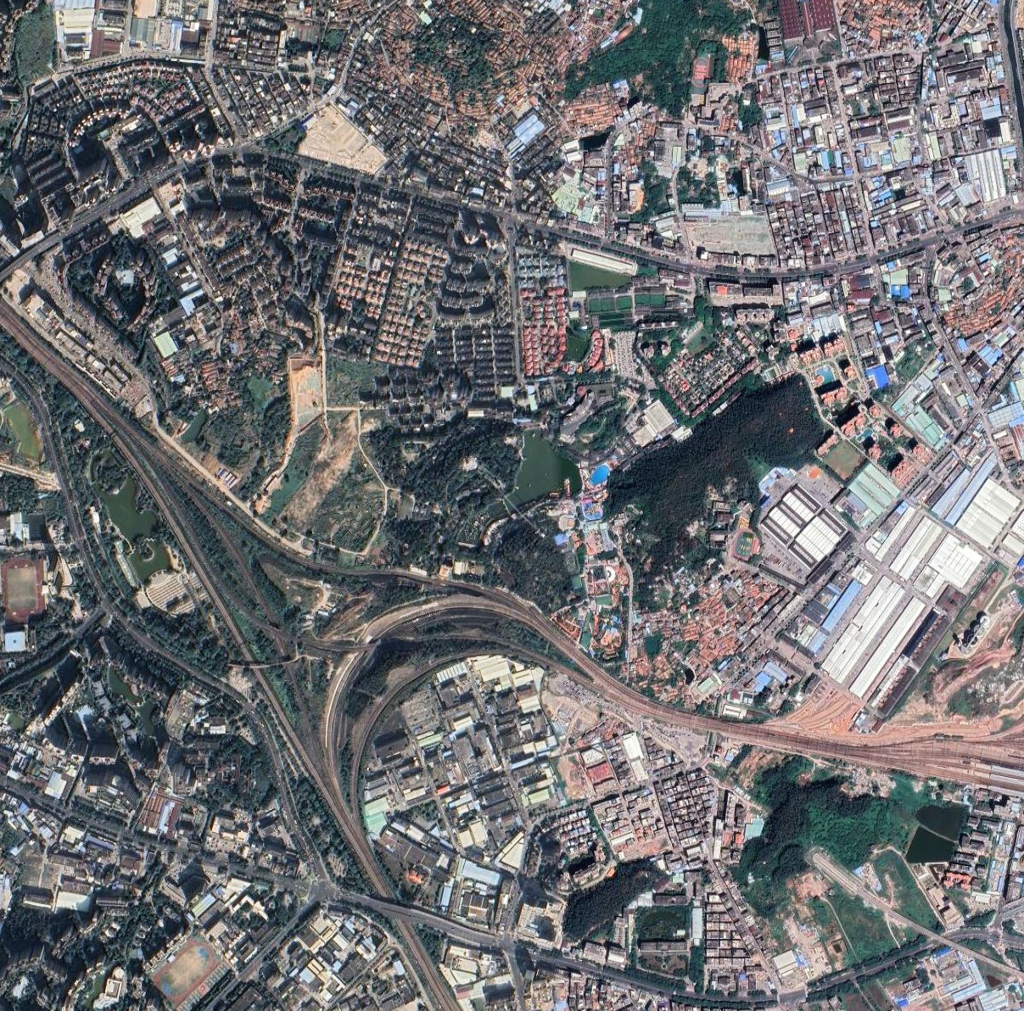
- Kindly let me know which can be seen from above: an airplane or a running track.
running track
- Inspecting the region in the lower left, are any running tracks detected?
Yes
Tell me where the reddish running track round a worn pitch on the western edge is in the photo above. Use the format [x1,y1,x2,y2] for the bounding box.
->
[0,561,45,620]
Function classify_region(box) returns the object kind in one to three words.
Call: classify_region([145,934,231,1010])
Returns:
running track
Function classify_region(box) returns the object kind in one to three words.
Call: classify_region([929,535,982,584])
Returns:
shed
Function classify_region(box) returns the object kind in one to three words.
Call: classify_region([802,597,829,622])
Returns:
building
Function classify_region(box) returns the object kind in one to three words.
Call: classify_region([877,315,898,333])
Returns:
building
